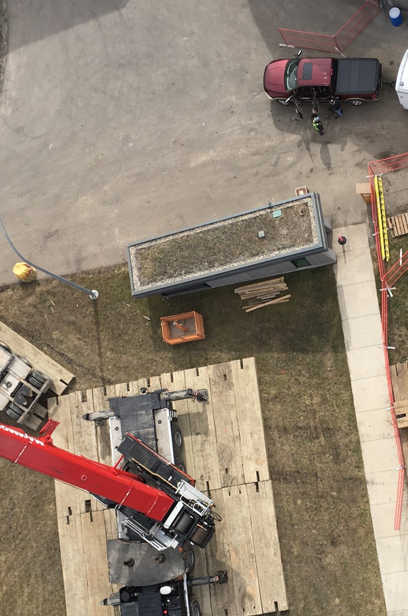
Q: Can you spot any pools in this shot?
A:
No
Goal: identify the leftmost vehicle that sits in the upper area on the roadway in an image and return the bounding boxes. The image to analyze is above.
[265,44,385,118]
